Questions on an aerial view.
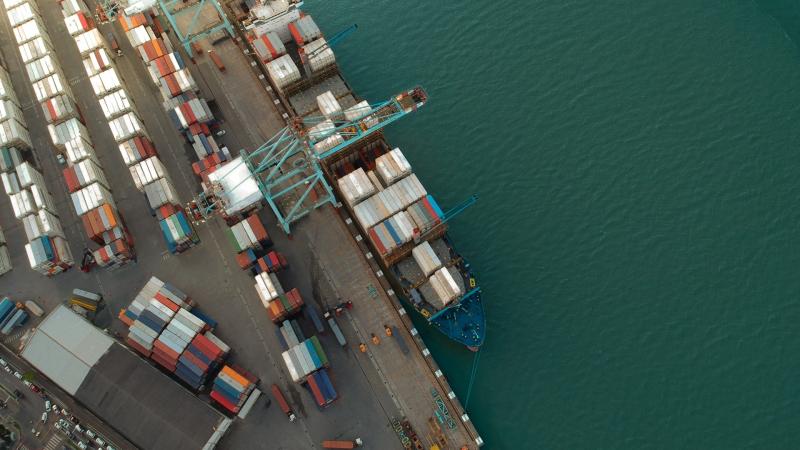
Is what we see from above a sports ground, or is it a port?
port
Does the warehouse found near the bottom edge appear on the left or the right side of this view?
left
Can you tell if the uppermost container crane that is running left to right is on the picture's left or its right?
left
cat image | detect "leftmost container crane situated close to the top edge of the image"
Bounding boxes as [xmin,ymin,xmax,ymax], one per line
[87,0,238,59]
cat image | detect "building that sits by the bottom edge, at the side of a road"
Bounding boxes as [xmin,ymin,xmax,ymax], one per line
[18,303,240,450]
